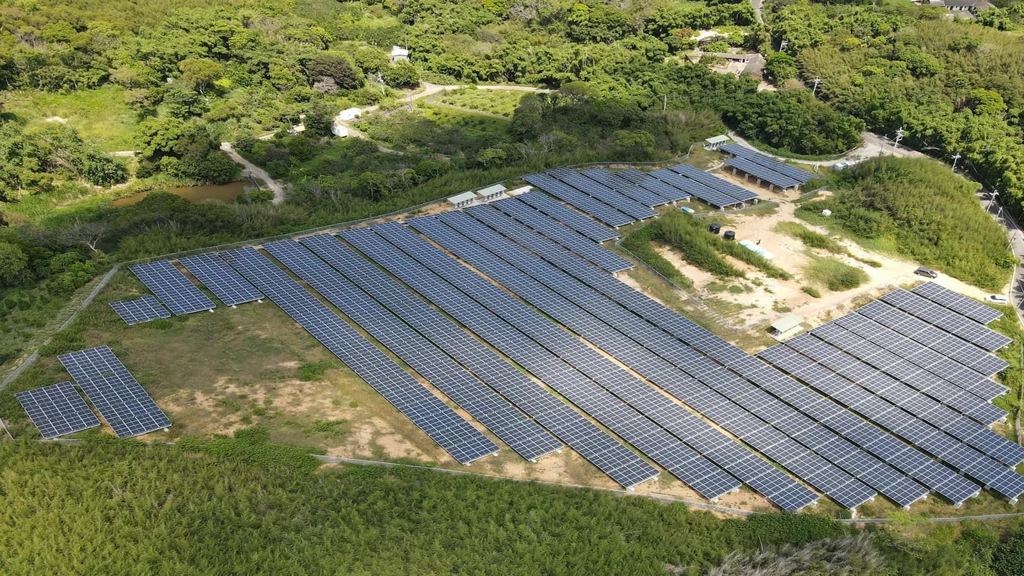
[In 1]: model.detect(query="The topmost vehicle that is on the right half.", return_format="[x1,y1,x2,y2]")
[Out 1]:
[915,266,938,279]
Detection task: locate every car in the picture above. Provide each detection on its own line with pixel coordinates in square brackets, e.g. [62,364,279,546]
[915,266,938,279]
[984,294,1010,305]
